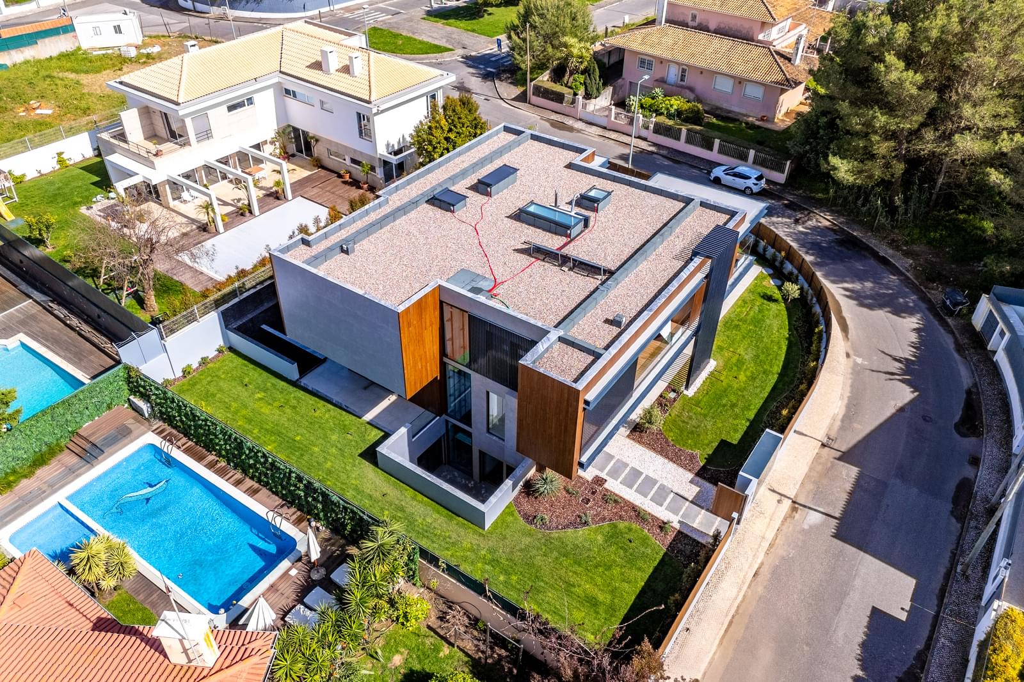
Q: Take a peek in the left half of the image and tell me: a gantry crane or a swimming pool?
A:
swimming pool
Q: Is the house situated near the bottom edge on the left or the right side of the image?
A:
left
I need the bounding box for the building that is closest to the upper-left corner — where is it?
[65,5,136,50]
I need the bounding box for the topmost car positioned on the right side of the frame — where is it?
[707,163,766,194]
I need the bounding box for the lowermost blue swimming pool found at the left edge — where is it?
[0,433,317,627]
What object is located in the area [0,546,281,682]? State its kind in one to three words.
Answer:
house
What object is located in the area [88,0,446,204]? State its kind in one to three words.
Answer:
house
